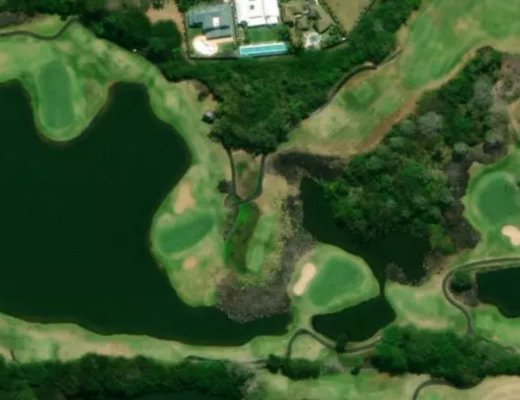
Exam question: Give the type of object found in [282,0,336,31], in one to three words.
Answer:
house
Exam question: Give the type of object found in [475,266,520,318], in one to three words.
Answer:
pond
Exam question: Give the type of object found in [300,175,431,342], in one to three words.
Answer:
pond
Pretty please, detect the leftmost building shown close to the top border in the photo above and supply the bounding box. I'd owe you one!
[186,3,235,39]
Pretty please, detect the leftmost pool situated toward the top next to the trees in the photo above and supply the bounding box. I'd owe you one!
[239,42,286,56]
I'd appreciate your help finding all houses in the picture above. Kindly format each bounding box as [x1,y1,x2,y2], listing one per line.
[236,0,280,28]
[282,0,336,31]
[186,3,235,39]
